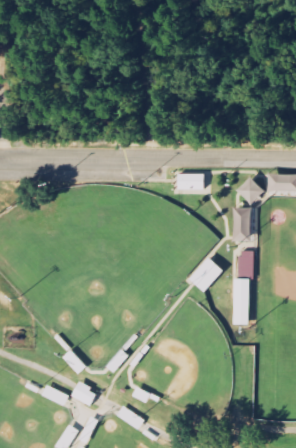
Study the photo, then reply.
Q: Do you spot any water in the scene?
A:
No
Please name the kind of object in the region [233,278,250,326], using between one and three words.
shed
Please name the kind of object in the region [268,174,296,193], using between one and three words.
building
